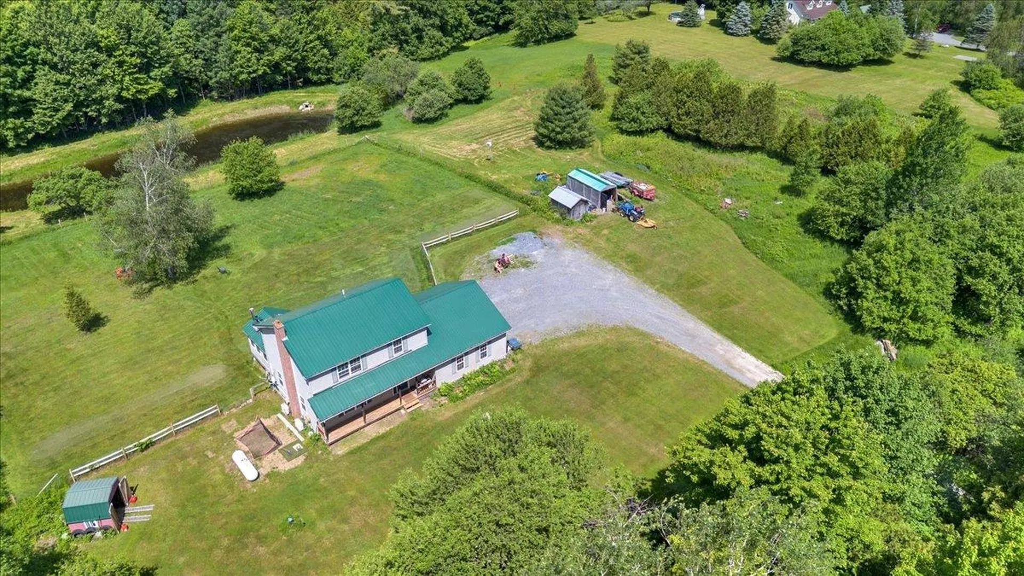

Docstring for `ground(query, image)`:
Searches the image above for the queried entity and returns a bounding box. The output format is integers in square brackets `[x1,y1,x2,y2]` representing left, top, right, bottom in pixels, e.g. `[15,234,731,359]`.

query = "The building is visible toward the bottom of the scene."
[241,278,511,445]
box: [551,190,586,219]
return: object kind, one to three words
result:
shed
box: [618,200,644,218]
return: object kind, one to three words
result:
work vehicle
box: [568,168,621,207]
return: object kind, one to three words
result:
shed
